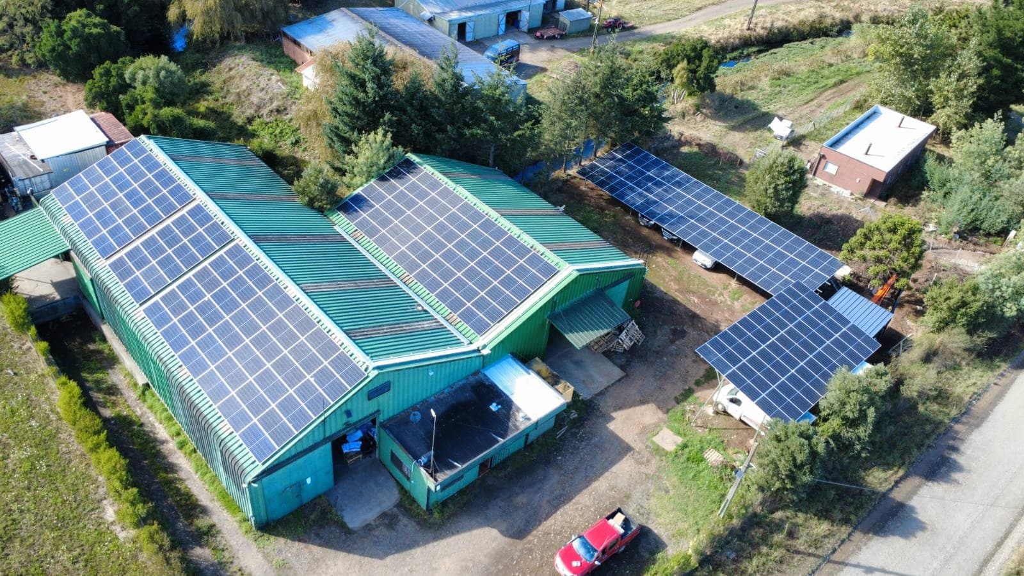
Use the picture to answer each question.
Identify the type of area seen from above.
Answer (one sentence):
The picture captures an industrial area.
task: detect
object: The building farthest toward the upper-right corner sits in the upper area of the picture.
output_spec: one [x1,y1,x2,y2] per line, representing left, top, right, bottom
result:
[813,107,950,204]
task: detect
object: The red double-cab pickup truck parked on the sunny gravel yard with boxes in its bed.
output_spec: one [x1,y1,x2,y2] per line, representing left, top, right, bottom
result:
[552,503,649,576]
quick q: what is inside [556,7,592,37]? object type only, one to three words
shed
